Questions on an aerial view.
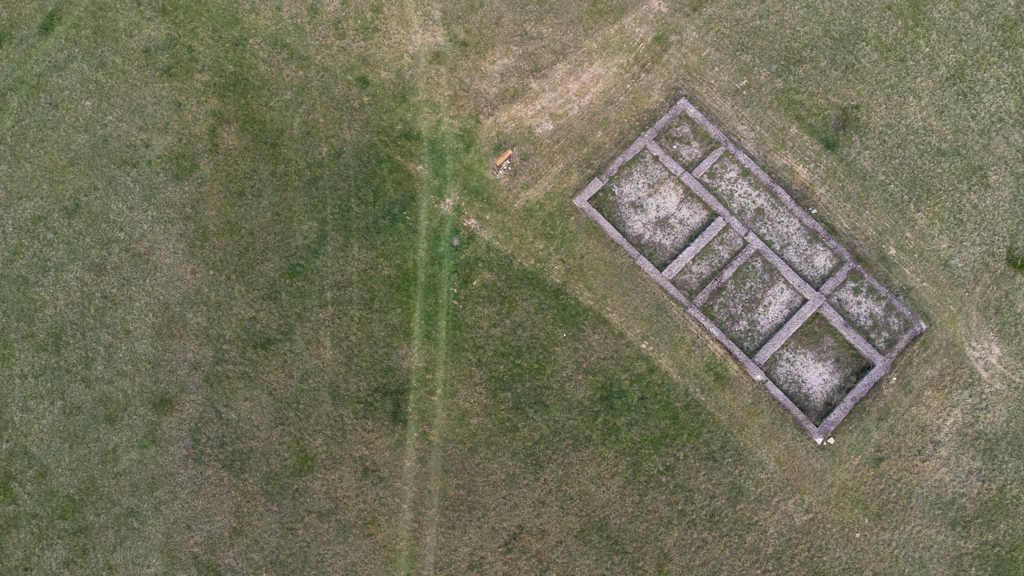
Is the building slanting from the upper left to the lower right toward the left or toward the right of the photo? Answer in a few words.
right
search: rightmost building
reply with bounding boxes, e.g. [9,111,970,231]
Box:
[571,95,926,445]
